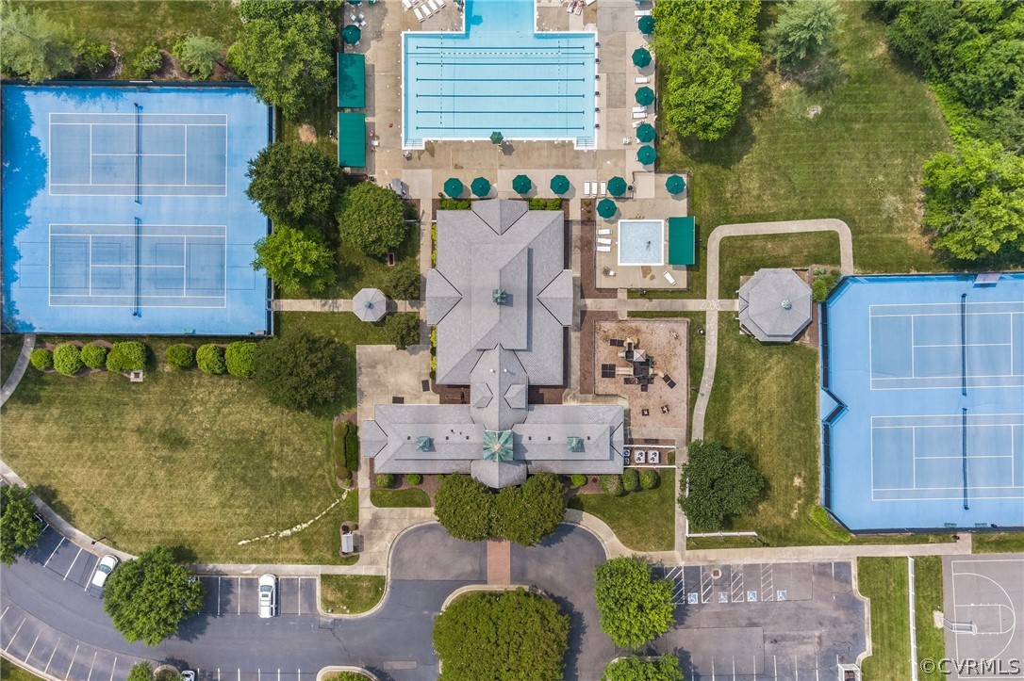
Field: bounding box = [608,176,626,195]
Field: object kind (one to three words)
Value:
umbrella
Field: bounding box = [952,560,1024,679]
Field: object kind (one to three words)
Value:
basketball court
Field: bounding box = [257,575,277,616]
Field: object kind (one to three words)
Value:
car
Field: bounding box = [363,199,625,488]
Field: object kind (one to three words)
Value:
building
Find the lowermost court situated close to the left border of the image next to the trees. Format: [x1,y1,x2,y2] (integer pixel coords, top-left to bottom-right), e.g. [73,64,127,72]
[20,216,256,314]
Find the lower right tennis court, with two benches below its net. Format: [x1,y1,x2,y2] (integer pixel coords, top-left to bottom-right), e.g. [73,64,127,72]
[871,408,1024,508]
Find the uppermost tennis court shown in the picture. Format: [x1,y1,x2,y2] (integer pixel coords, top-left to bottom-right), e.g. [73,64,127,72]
[49,101,227,205]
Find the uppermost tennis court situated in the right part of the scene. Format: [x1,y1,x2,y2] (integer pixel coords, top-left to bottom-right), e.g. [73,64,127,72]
[870,295,1024,395]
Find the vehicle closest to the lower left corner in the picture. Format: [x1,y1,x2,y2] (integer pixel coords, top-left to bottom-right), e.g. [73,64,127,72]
[89,553,118,591]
